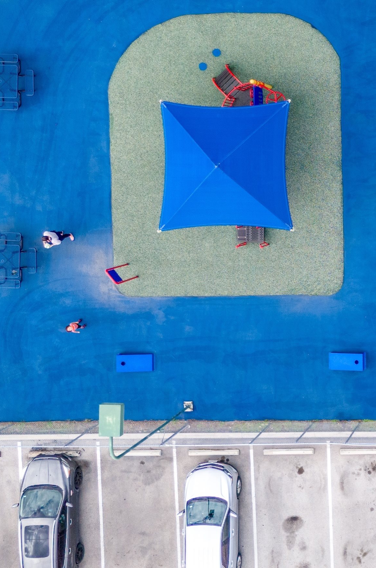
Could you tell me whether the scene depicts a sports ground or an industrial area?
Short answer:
sports ground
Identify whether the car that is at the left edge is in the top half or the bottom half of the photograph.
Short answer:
bottom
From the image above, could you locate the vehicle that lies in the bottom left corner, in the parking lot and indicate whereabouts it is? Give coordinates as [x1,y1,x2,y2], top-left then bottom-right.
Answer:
[14,452,89,568]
